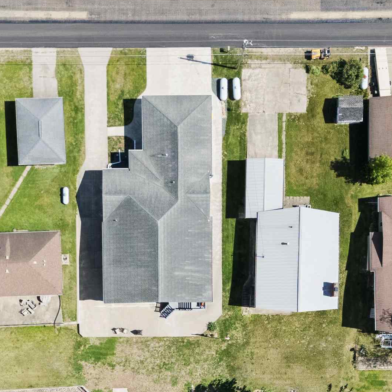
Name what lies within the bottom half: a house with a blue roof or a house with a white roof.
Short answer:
house with a white roof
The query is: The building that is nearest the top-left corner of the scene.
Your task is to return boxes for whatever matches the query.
[14,96,67,167]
